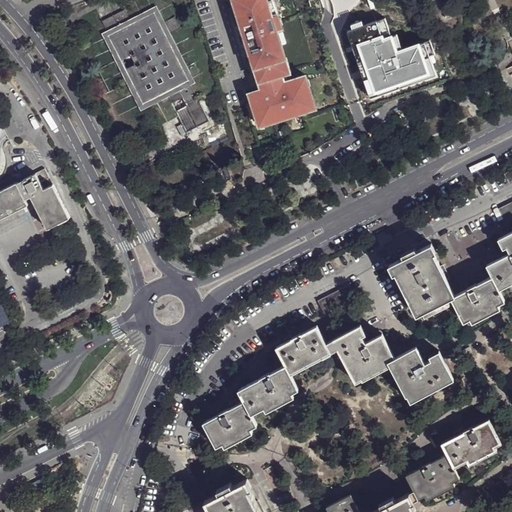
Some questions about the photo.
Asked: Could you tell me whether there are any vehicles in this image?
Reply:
Yes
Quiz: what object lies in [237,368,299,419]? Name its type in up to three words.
building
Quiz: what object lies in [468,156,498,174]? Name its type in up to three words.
vehicle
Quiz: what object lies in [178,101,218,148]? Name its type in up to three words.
house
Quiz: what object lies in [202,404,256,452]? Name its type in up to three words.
building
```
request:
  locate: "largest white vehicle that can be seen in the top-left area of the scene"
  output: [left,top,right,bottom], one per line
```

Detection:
[43,110,60,132]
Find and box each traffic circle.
[134,274,204,346]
